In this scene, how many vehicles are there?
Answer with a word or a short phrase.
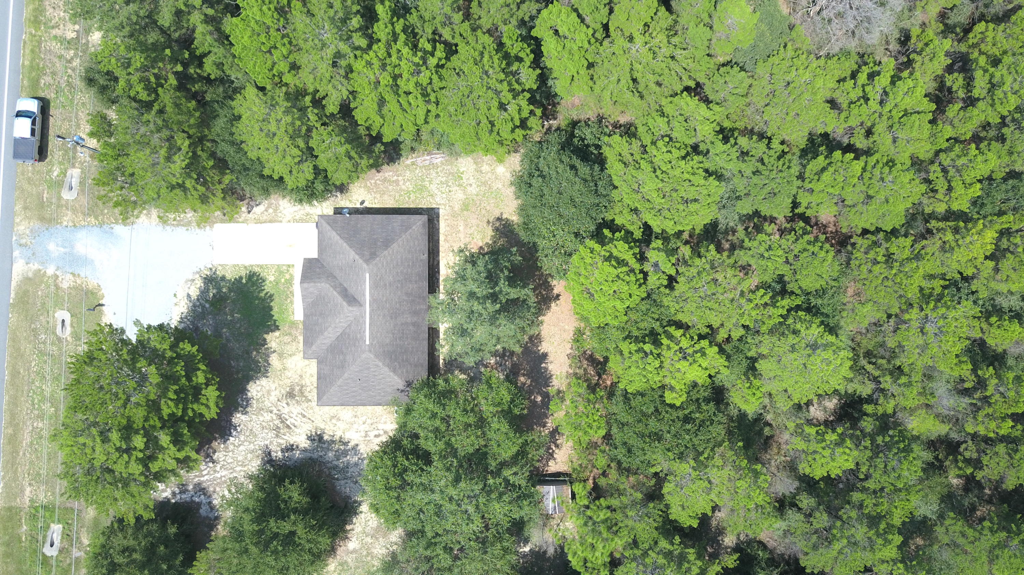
1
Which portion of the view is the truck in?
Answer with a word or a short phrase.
top left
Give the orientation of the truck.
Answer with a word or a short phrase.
from top to bottom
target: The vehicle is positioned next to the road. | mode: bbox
[11,98,45,166]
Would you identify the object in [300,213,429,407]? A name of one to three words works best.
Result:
house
